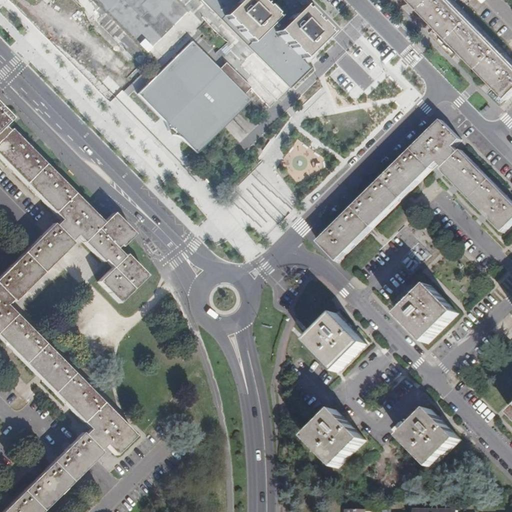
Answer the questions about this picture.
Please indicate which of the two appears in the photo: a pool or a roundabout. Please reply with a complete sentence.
Looking from above, you can make out a roundabout.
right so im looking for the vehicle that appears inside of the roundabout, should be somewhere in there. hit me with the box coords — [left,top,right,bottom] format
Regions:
[202,303,218,318]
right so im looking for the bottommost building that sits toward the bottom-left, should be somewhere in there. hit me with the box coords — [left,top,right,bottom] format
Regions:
[7,434,112,512]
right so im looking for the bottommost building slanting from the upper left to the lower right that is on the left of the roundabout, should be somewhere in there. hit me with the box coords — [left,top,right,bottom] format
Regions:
[0,278,148,458]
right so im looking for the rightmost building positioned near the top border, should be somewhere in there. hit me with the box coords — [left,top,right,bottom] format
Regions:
[406,0,512,100]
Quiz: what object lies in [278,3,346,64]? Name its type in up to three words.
building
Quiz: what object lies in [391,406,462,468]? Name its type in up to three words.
building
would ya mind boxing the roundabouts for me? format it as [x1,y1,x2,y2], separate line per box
[192,266,258,332]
